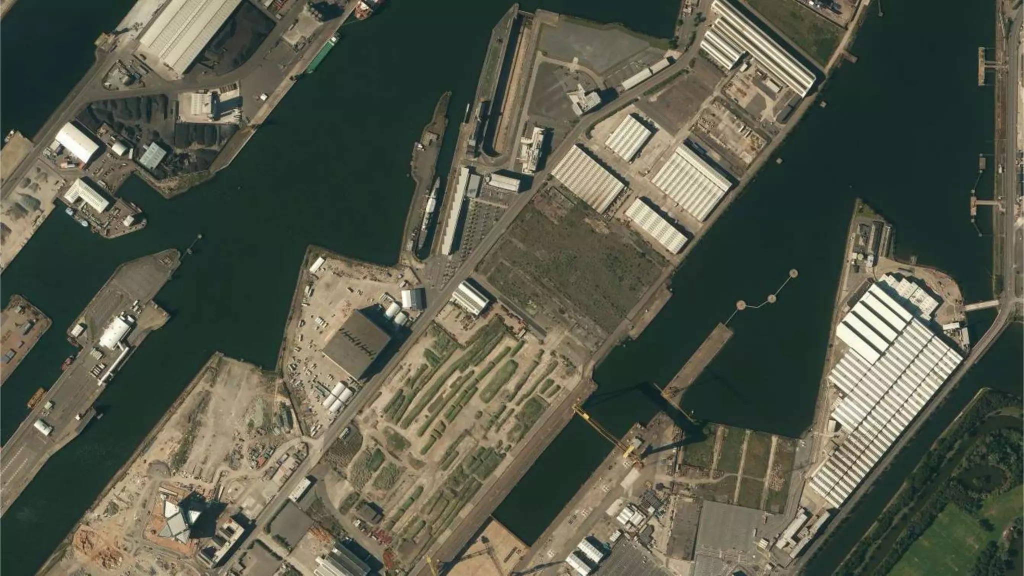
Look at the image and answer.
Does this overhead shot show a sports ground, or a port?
port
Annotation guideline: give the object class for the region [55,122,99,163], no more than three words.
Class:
building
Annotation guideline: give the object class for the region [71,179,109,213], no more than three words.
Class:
shed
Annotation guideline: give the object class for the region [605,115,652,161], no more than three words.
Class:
building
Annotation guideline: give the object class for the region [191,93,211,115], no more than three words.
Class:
shed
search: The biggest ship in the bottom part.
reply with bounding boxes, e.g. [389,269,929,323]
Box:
[27,388,46,408]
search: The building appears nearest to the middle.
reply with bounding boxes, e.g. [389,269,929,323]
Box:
[453,280,489,316]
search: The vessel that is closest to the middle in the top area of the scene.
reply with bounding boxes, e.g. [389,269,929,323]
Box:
[417,177,439,248]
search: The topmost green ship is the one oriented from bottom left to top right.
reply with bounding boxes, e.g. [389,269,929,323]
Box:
[306,33,339,74]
